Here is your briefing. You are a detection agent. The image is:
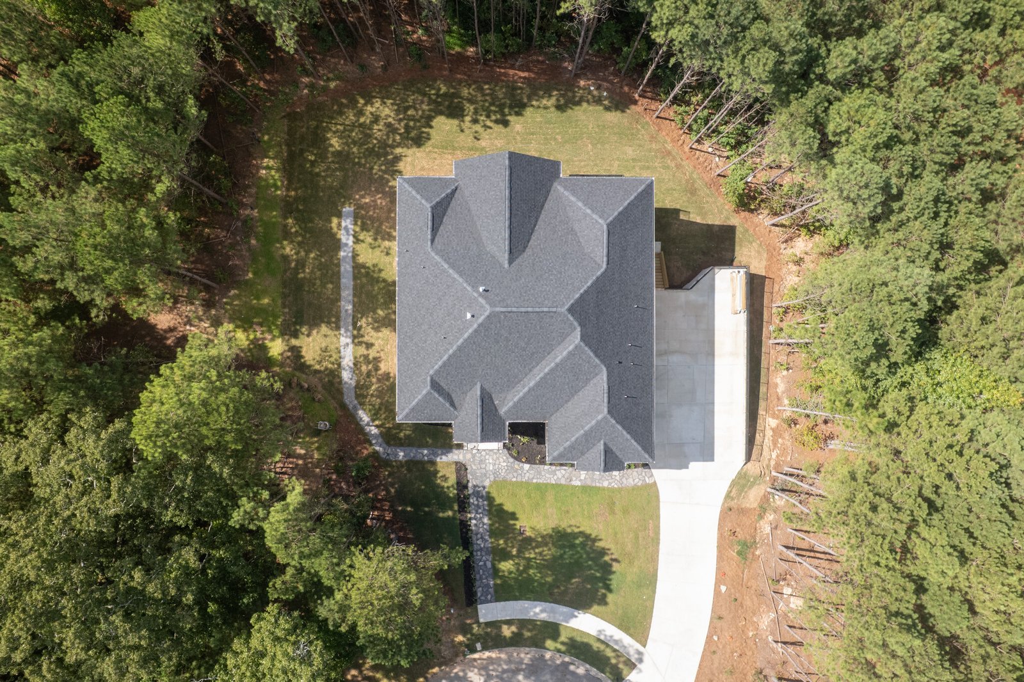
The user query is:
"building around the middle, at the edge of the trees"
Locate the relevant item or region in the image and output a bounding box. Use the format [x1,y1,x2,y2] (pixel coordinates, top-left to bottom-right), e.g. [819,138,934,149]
[395,149,656,474]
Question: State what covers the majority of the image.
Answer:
trees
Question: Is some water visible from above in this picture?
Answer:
No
